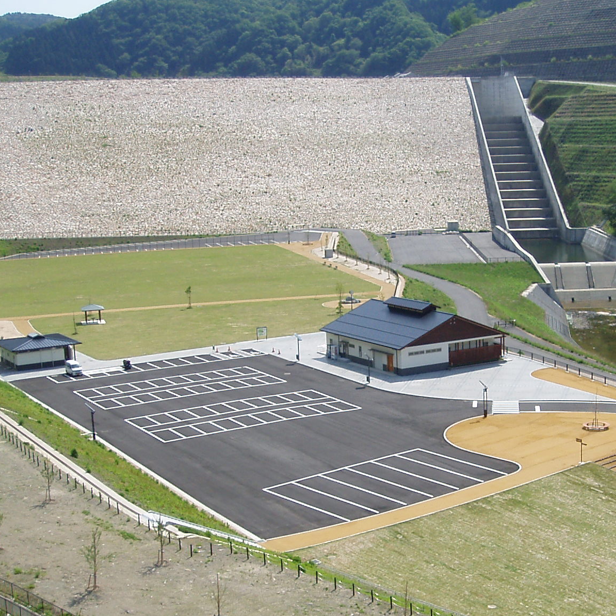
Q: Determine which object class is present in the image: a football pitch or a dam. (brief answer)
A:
dam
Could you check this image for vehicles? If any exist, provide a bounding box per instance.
[389,232,396,238]
[65,356,87,375]
[122,359,134,369]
